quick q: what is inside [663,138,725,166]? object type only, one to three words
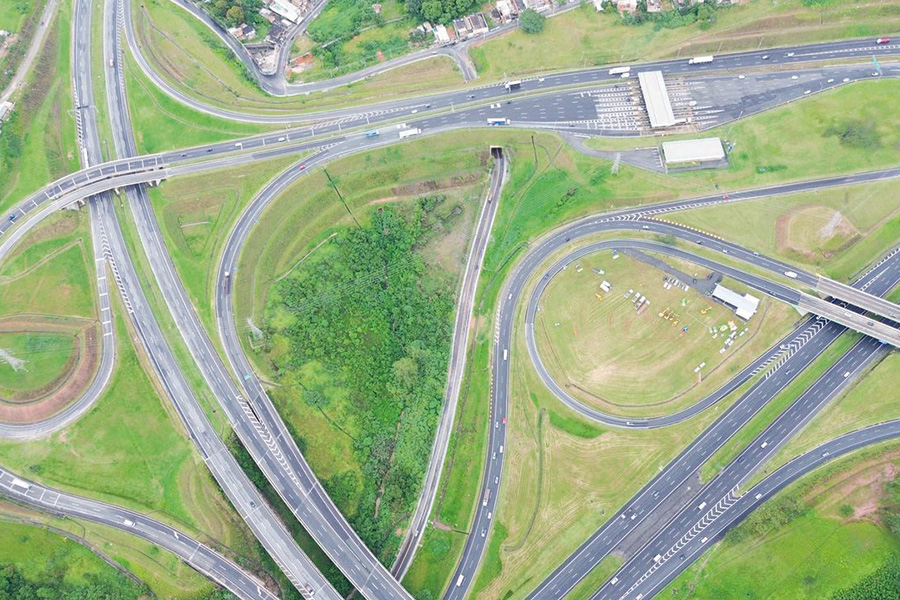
building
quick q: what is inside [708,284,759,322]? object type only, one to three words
building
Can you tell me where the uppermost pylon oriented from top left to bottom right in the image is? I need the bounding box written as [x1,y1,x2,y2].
[246,320,265,341]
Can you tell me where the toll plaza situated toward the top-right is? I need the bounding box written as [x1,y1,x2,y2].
[628,71,700,131]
